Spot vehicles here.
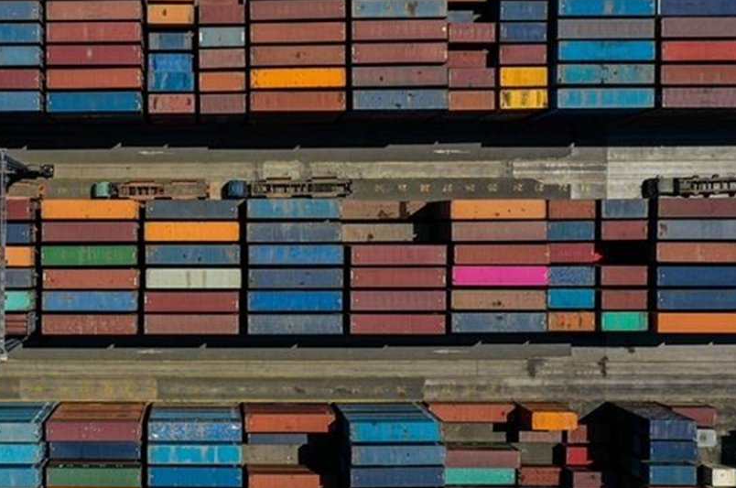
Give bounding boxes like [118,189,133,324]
[2,181,51,200]
[646,175,736,198]
[225,178,351,200]
[91,178,208,200]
